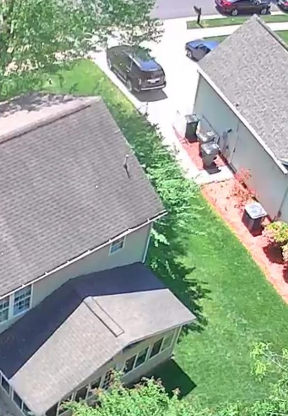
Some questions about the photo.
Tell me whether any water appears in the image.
No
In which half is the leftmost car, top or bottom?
top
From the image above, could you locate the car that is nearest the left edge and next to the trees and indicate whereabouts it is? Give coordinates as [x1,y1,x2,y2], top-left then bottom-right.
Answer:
[109,43,165,86]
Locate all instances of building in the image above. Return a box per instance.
[193,16,288,220]
[0,91,194,416]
